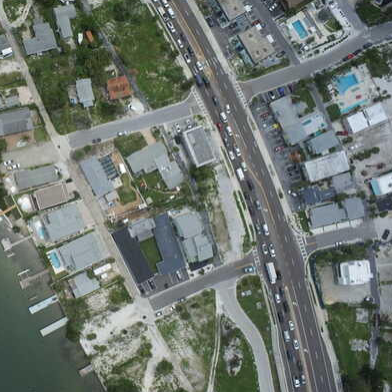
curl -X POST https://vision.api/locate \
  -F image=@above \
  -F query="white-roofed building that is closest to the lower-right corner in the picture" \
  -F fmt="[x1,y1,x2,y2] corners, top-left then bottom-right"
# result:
[331,259,374,286]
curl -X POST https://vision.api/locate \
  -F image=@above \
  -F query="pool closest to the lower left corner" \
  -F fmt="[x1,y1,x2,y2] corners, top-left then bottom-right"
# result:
[47,250,65,274]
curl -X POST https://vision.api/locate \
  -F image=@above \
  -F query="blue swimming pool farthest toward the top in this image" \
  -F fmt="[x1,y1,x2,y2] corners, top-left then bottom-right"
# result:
[291,19,309,39]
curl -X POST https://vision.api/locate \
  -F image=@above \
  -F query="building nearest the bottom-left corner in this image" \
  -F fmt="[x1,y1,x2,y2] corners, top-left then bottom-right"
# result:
[69,272,100,297]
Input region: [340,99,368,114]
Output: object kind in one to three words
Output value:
swimming pool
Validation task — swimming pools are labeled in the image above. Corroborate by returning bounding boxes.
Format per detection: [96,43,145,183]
[291,19,309,39]
[32,218,49,244]
[340,99,368,114]
[47,250,65,274]
[330,65,378,114]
